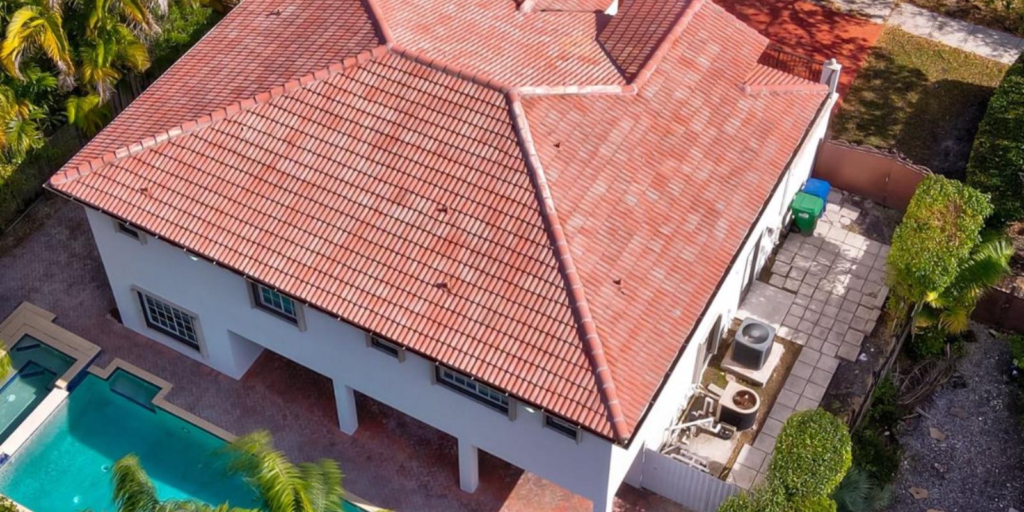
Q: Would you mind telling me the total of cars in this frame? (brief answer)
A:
none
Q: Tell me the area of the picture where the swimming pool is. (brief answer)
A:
bottom left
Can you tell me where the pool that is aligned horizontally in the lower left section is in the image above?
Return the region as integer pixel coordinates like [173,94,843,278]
[0,359,390,512]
